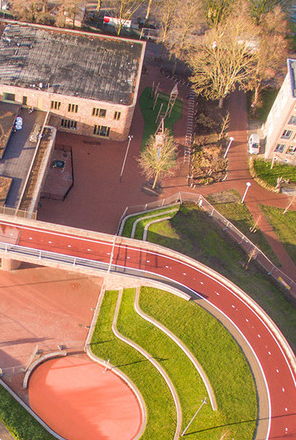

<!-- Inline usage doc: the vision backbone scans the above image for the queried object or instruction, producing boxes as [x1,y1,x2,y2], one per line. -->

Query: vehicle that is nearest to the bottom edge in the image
[249,134,263,152]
